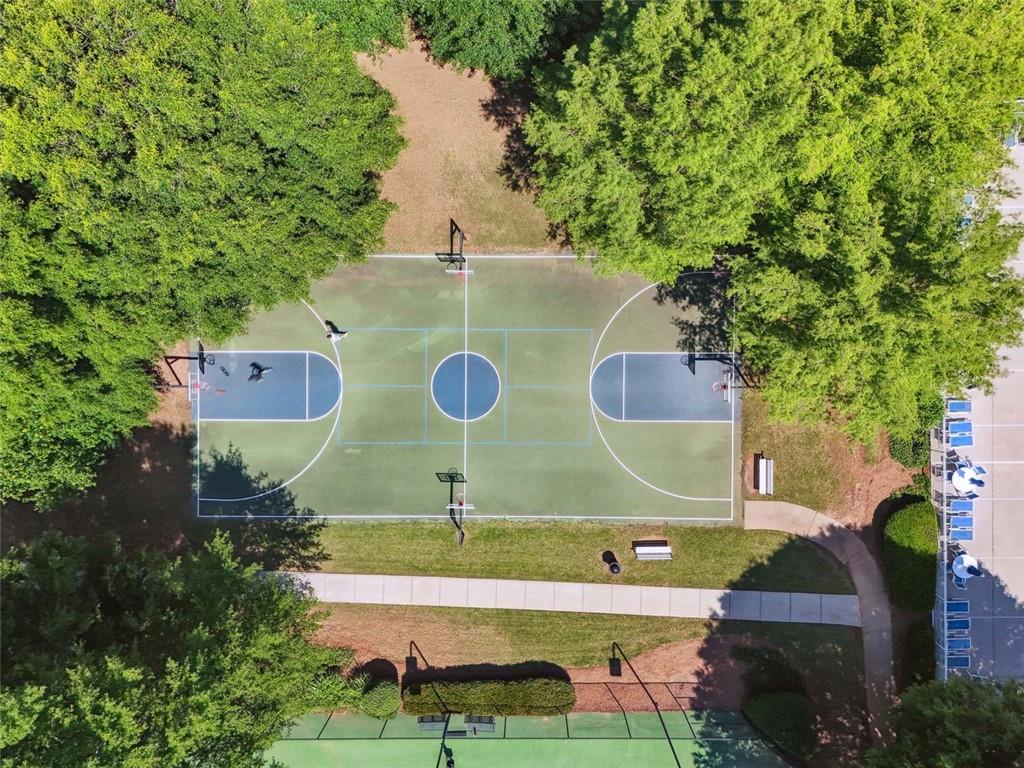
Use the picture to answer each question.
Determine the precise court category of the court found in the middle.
basketball court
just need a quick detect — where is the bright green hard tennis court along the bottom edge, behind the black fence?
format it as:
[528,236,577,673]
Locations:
[186,713,789,768]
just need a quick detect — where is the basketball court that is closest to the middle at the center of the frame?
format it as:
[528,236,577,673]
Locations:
[190,250,744,527]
